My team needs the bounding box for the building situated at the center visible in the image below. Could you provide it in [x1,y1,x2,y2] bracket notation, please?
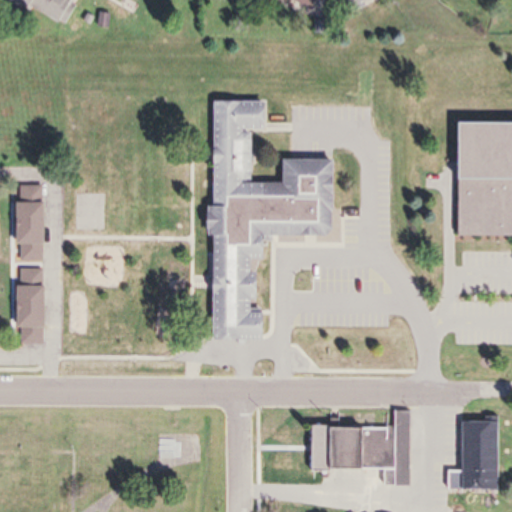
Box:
[206,100,334,338]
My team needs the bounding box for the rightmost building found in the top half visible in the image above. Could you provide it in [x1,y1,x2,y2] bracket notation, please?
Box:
[458,122,512,235]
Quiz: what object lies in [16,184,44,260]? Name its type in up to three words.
building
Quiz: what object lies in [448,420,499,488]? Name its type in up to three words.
house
